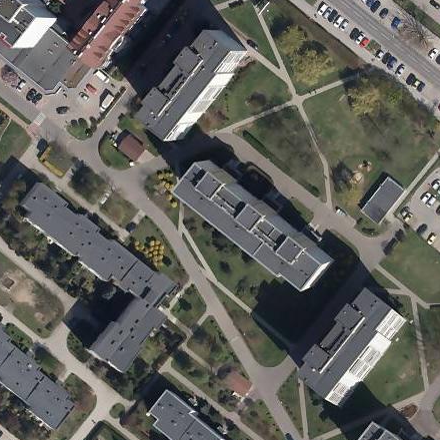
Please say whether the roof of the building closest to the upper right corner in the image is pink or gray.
gray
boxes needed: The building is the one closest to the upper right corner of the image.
[360,178,404,223]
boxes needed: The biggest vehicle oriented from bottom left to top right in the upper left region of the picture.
[99,90,116,110]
